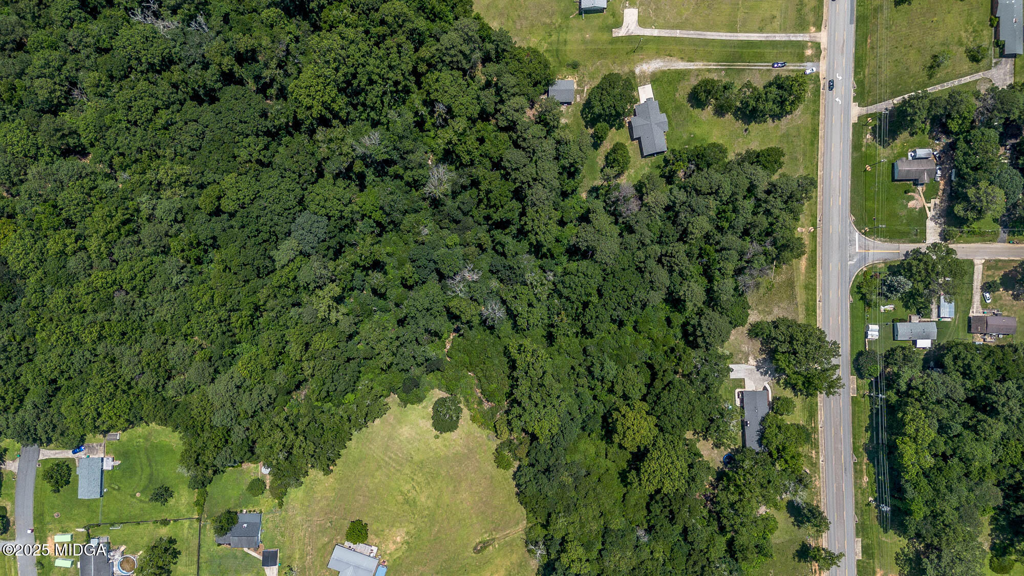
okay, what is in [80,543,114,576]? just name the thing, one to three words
house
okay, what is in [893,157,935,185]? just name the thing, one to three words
house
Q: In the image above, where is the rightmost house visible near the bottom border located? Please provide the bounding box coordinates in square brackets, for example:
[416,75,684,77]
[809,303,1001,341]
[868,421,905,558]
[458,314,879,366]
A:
[330,542,380,576]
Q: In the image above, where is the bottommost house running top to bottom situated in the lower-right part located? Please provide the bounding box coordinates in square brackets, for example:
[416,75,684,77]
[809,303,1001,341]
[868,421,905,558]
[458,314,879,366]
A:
[743,389,772,453]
